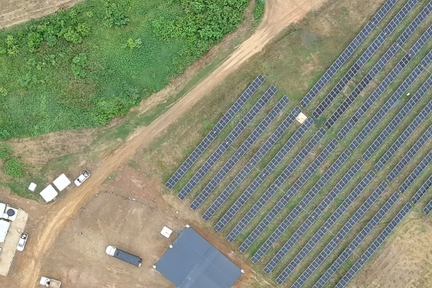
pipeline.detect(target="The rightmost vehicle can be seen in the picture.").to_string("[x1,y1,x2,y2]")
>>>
[106,246,143,266]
